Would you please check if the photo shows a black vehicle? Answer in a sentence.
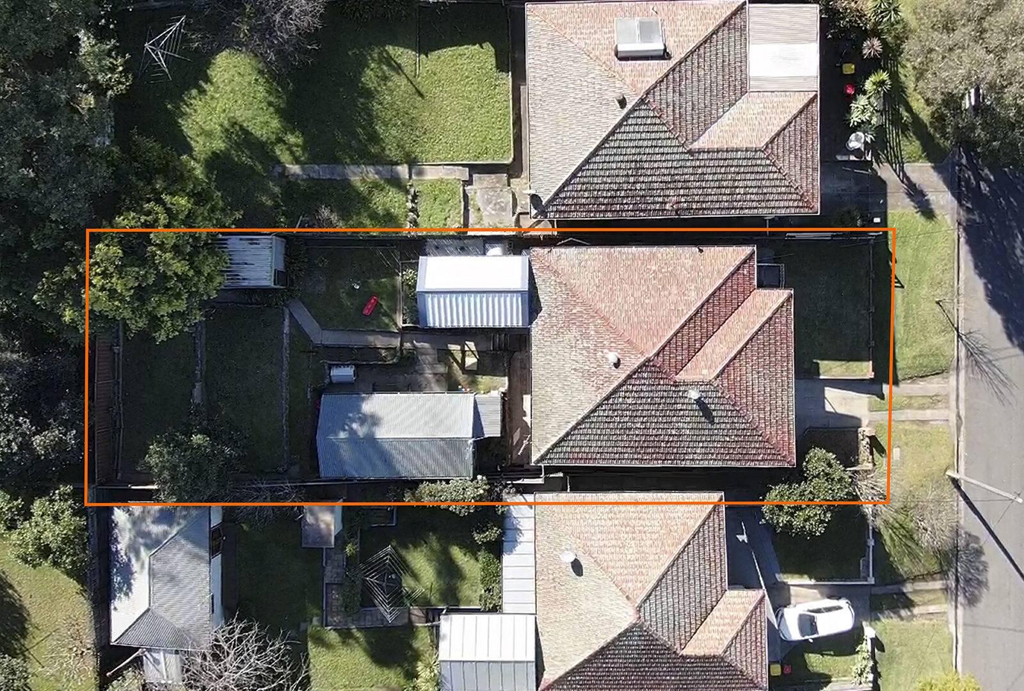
No, the photo shows no black vehicle.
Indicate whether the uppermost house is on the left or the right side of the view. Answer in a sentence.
It is on the right.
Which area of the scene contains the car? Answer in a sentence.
Look in the bottom right portion of the view to spot the car.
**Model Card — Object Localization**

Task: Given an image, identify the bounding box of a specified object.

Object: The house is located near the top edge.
[524,0,824,221]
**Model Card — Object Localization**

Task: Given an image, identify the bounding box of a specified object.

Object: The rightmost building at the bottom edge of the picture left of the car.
[532,488,770,691]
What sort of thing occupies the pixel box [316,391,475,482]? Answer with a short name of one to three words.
shed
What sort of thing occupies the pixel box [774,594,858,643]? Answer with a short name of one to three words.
car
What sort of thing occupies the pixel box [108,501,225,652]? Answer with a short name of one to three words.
shed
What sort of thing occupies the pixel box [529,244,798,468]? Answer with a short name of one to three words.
house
